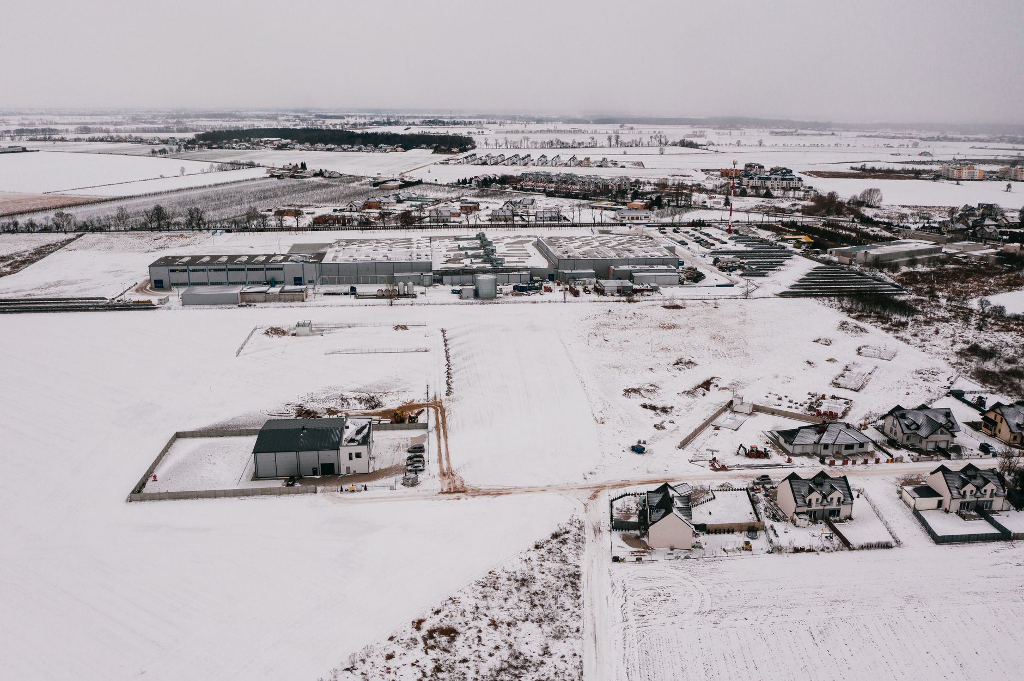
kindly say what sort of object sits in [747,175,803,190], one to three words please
building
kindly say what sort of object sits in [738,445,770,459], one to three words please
work vehicle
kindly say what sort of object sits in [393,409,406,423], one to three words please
vehicle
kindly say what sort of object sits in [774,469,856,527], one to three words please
house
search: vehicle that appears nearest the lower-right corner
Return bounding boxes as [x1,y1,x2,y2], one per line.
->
[978,441,1000,454]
